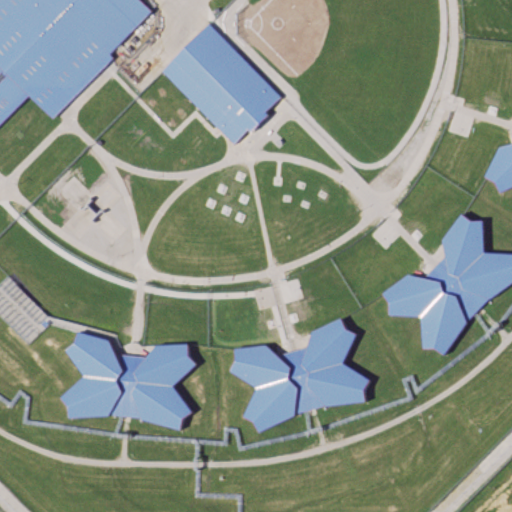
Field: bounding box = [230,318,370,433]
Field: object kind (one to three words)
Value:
building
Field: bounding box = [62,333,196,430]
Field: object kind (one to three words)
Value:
building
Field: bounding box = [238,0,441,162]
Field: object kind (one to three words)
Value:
baseball field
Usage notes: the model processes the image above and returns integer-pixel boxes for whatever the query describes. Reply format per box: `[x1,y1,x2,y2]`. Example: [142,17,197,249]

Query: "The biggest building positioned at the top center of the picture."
[164,26,282,144]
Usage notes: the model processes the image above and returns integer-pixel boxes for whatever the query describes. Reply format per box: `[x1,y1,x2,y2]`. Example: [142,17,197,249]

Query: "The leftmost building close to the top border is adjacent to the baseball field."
[0,0,153,126]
